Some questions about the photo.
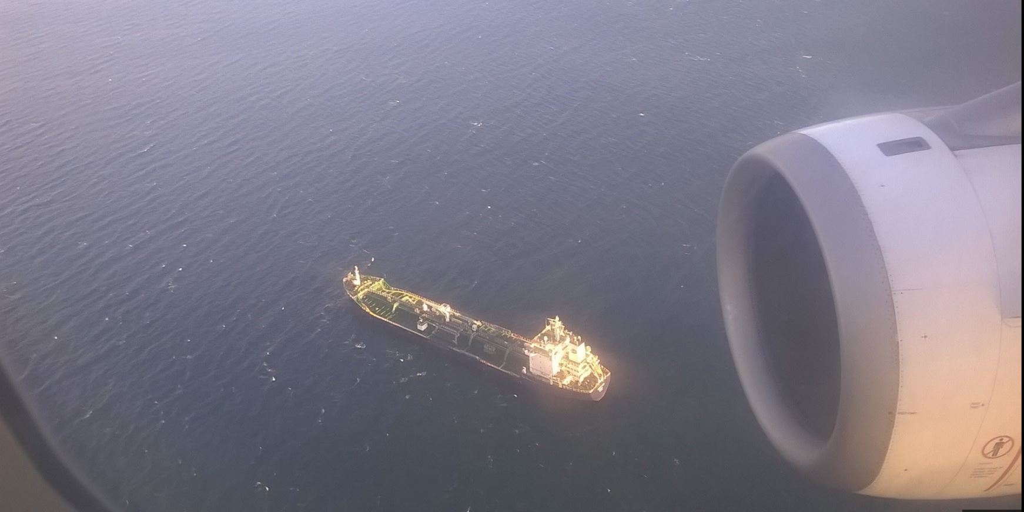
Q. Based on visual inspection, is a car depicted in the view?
No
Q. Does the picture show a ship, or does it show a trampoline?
ship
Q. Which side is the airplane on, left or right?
right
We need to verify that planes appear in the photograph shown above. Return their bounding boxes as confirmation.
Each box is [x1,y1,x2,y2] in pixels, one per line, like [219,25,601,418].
[716,75,1024,500]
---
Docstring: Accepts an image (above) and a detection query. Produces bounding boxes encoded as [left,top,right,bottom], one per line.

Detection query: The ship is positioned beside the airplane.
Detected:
[343,265,609,398]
